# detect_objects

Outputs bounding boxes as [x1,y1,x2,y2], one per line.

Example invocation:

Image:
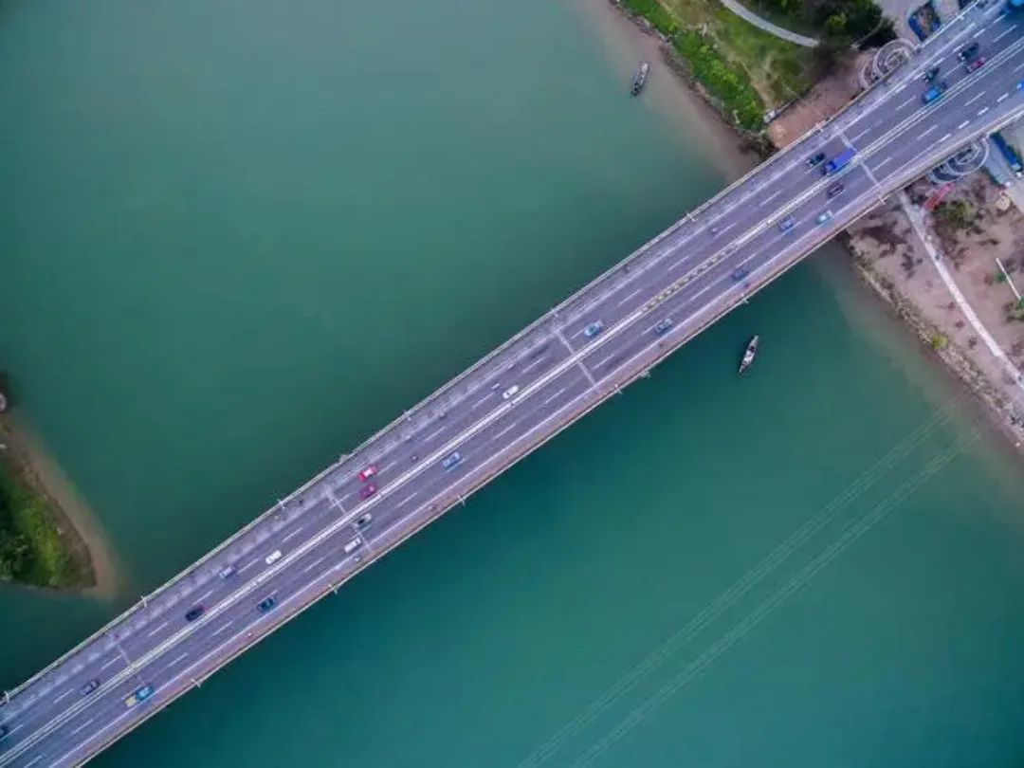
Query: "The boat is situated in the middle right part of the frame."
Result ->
[737,333,759,375]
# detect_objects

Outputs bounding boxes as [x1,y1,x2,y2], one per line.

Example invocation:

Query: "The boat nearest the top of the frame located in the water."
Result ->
[633,61,650,97]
